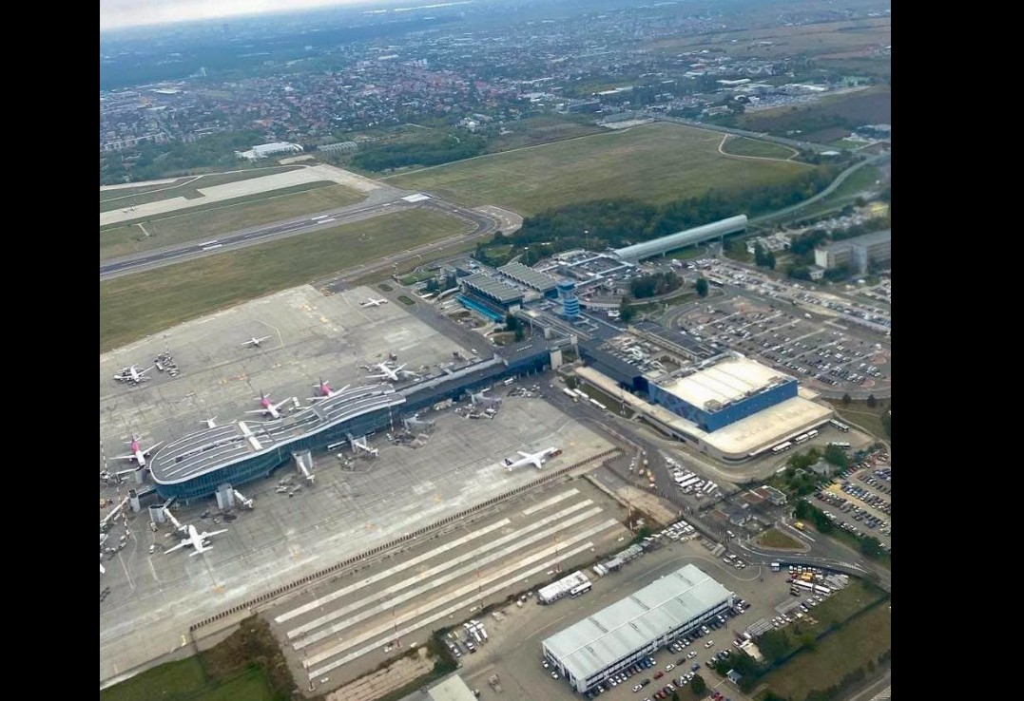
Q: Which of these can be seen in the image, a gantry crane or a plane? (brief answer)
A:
plane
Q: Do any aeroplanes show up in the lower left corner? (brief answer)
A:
Yes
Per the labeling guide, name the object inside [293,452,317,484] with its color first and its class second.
gray jet bridge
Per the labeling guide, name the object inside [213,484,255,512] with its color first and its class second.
gray jet bridge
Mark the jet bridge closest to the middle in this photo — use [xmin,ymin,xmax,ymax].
[465,389,503,410]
